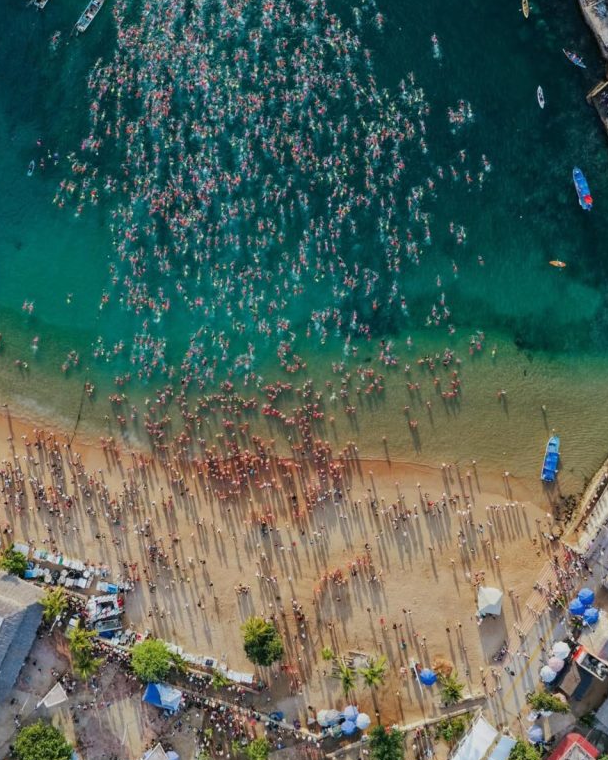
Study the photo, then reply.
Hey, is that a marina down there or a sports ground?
marina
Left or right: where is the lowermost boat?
right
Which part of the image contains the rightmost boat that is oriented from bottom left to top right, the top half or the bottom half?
top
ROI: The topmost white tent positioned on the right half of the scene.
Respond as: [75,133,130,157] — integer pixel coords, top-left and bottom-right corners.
[476,583,502,612]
